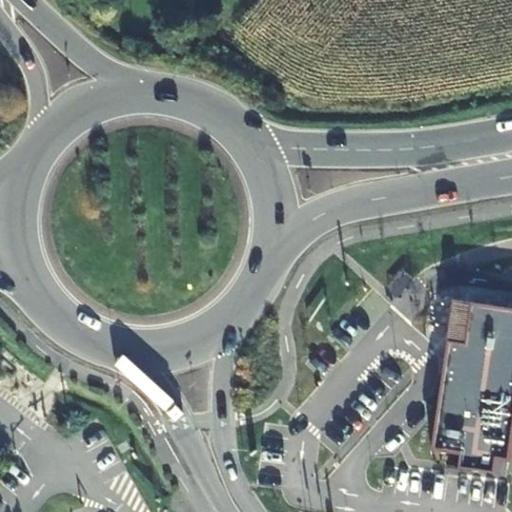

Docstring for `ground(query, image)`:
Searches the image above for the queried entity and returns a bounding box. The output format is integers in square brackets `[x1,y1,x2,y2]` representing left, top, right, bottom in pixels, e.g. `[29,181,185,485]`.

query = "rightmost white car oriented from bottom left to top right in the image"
[384,434,406,452]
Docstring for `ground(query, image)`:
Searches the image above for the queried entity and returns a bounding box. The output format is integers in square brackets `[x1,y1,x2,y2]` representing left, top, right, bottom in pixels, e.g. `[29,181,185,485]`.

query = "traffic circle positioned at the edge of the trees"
[0,72,291,368]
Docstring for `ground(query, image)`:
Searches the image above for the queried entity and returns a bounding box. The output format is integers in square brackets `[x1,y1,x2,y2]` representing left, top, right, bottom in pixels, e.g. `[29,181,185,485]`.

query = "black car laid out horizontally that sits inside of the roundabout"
[154,89,178,101]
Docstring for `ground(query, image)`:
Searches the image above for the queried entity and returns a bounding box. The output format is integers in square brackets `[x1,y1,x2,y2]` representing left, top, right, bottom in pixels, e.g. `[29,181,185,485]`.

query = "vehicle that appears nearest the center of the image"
[248,250,261,274]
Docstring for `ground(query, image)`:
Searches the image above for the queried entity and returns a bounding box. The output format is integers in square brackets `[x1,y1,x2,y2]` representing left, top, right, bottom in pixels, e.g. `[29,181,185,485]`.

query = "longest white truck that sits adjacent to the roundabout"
[114,356,184,421]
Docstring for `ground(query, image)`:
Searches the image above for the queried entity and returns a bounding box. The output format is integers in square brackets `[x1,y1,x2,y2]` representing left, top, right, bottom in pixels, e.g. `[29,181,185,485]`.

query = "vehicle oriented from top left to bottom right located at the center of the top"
[244,112,265,129]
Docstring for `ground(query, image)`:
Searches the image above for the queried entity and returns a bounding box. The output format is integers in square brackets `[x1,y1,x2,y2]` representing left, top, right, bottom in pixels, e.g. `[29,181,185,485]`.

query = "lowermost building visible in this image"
[432,300,512,477]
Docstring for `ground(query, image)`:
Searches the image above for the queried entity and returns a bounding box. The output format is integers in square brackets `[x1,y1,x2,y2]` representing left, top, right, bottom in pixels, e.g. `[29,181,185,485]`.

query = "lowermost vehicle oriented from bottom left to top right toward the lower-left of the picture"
[96,452,116,470]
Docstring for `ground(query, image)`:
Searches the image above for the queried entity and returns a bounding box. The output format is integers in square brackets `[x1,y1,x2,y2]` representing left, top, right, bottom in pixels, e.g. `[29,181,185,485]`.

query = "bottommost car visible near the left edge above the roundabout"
[19,47,34,68]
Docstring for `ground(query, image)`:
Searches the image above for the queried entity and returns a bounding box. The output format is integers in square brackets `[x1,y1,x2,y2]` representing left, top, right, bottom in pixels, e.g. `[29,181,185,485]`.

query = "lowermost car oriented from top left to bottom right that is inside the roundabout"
[78,312,101,330]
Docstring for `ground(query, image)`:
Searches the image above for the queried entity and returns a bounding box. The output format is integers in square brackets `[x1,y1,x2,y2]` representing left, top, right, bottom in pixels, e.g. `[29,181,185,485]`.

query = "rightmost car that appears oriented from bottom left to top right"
[408,407,426,430]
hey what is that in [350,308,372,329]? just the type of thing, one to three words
car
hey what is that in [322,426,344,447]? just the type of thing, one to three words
car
